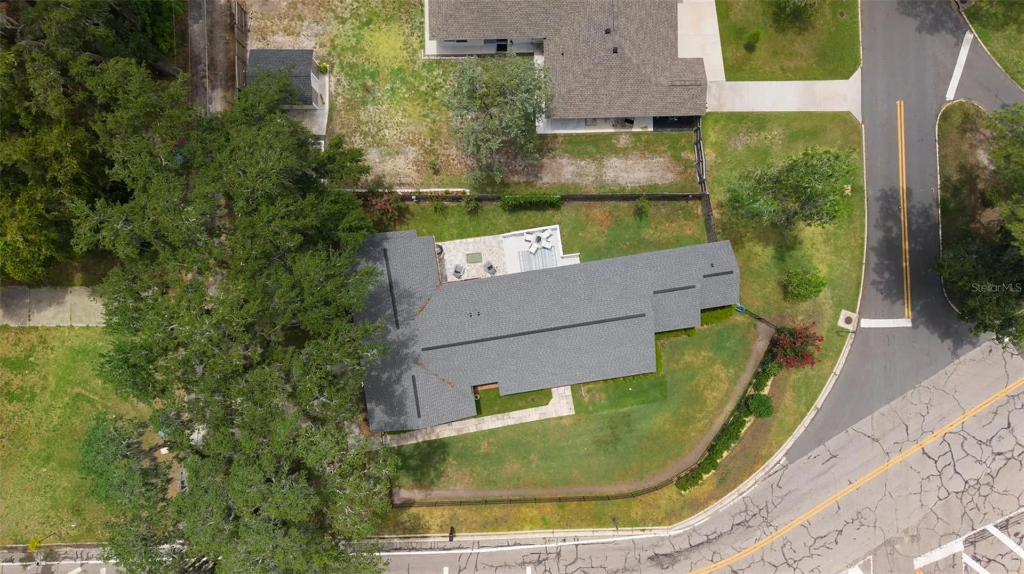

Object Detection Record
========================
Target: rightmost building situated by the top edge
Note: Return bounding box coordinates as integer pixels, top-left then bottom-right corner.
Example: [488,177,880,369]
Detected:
[427,0,707,120]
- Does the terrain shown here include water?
No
